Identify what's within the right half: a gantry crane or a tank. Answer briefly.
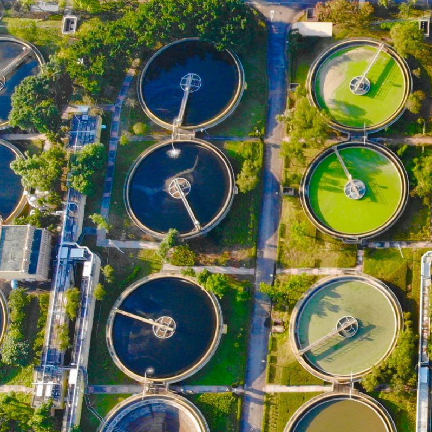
tank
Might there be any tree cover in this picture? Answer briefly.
Yes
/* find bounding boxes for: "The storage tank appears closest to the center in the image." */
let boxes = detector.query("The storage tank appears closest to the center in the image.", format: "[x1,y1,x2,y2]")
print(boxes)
[125,136,237,246]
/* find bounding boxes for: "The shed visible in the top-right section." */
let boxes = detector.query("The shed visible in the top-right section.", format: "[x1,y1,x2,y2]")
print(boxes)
[294,22,335,44]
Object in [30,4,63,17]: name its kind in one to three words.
shed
